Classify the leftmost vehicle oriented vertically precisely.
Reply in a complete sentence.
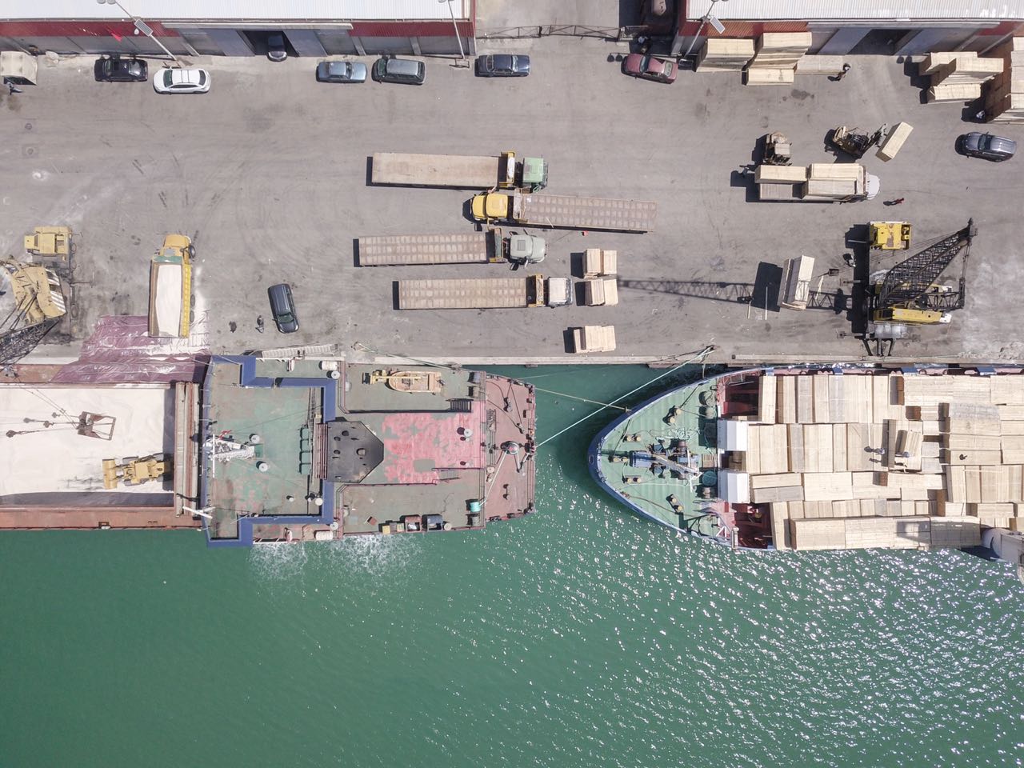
What you see as the leftmost vehicle oriented vertically is a truck.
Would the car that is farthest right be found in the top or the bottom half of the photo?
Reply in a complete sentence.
The car that is farthest right is in the top half of the image.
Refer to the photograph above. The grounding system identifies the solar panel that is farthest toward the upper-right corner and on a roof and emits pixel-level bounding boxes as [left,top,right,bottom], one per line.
[705,14,727,37]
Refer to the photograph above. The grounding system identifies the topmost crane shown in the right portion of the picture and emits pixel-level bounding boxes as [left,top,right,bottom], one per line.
[797,204,969,357]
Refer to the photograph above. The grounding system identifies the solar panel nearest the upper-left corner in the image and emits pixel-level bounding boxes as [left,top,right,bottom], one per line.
[133,17,155,39]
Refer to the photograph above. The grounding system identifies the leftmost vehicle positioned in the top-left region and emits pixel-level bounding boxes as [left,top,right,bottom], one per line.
[96,55,152,85]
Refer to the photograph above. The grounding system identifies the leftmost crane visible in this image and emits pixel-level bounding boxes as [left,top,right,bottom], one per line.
[0,227,97,370]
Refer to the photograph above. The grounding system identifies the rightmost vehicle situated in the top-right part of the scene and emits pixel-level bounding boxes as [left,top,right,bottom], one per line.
[953,132,1016,164]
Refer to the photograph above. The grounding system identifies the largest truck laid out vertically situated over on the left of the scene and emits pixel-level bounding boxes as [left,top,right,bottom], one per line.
[148,235,196,338]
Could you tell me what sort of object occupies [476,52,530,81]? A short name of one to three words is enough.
car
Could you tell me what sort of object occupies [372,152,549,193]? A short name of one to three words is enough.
truck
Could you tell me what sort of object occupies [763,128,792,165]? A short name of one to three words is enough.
work vehicle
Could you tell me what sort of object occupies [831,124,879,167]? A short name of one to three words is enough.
work vehicle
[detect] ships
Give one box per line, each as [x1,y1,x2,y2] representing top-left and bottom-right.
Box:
[591,368,1024,570]
[0,356,536,547]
